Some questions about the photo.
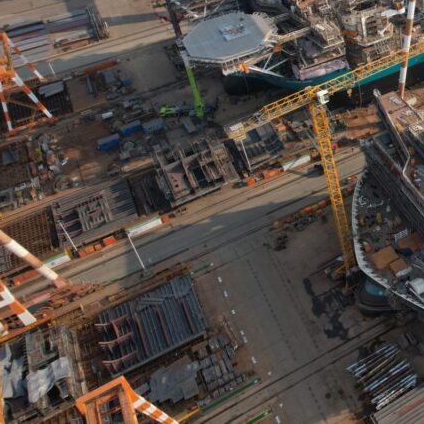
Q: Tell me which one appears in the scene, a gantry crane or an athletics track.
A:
gantry crane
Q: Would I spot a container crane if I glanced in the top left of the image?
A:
Yes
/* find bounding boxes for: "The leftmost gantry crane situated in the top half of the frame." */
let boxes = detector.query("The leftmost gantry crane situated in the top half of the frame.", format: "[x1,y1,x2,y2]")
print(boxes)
[0,25,61,136]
